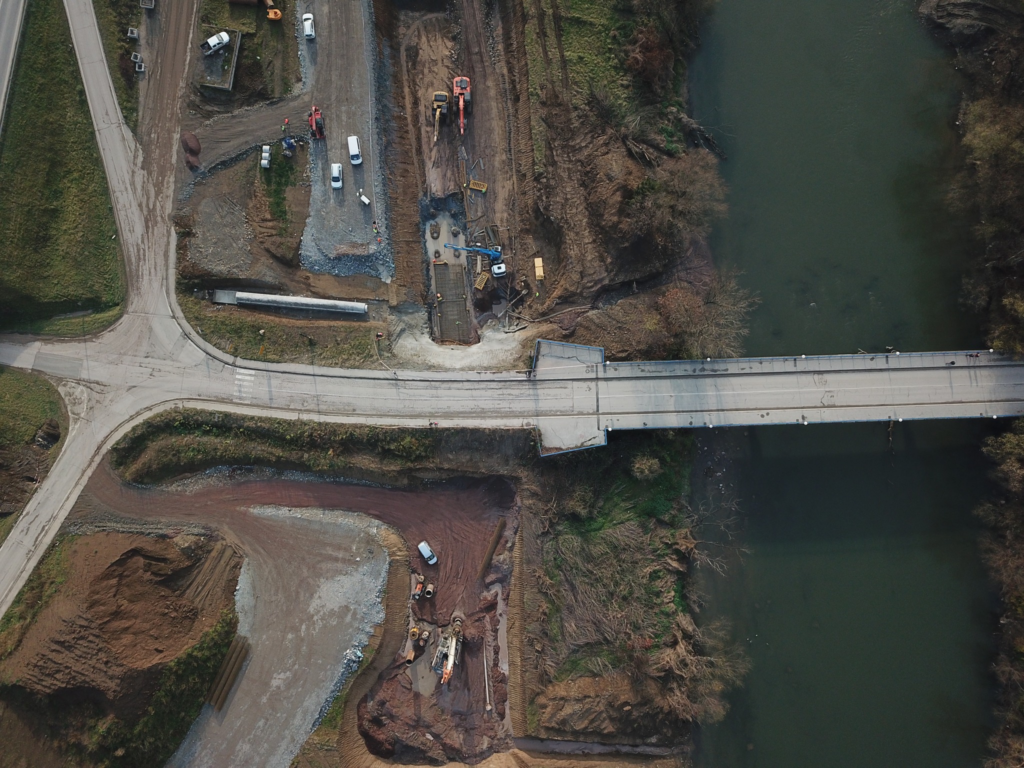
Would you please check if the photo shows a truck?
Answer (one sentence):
Yes, this view includes a truck.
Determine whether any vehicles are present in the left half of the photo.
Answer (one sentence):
Yes, a vehicle can be seen in the left half of the photo.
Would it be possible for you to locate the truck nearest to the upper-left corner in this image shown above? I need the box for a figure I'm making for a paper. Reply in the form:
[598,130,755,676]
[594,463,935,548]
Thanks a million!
[199,32,231,56]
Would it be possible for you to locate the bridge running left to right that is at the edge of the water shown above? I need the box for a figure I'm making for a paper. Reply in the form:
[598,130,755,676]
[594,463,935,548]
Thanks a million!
[532,340,1024,456]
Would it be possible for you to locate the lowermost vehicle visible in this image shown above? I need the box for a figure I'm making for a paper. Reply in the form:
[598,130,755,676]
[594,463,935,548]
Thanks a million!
[412,582,425,603]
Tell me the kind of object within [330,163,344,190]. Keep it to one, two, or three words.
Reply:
car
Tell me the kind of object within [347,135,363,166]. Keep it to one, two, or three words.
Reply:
vehicle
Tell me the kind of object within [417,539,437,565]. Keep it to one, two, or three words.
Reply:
vehicle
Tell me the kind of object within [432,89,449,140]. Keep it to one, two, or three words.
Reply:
work vehicle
